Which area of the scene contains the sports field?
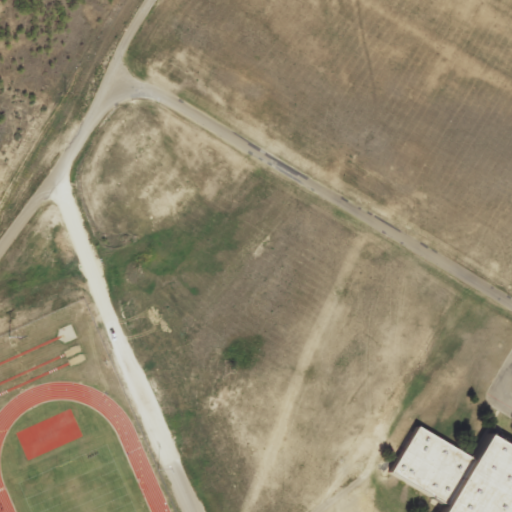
bottom left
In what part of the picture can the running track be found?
bottom left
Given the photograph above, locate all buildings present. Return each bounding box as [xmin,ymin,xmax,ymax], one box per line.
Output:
[442,434,512,512]
[390,426,473,504]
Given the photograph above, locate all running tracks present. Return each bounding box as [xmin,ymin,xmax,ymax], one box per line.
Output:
[0,382,172,512]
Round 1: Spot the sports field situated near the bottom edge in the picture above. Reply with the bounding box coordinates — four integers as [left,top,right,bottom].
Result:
[1,401,151,512]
